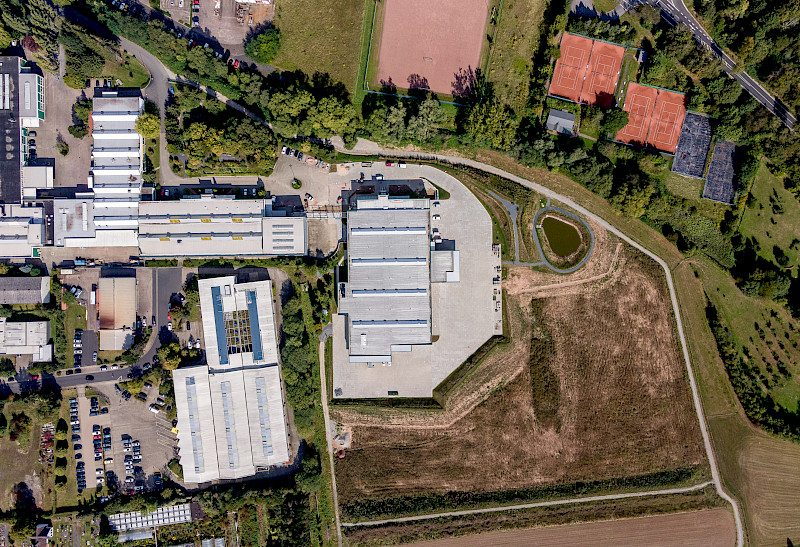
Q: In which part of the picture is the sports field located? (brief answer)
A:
top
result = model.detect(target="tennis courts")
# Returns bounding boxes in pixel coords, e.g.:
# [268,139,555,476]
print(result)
[549,34,594,102]
[580,41,626,108]
[673,112,709,177]
[616,82,658,145]
[647,90,686,154]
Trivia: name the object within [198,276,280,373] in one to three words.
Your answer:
building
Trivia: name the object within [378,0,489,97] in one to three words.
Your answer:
sports field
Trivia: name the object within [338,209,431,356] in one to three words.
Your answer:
building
